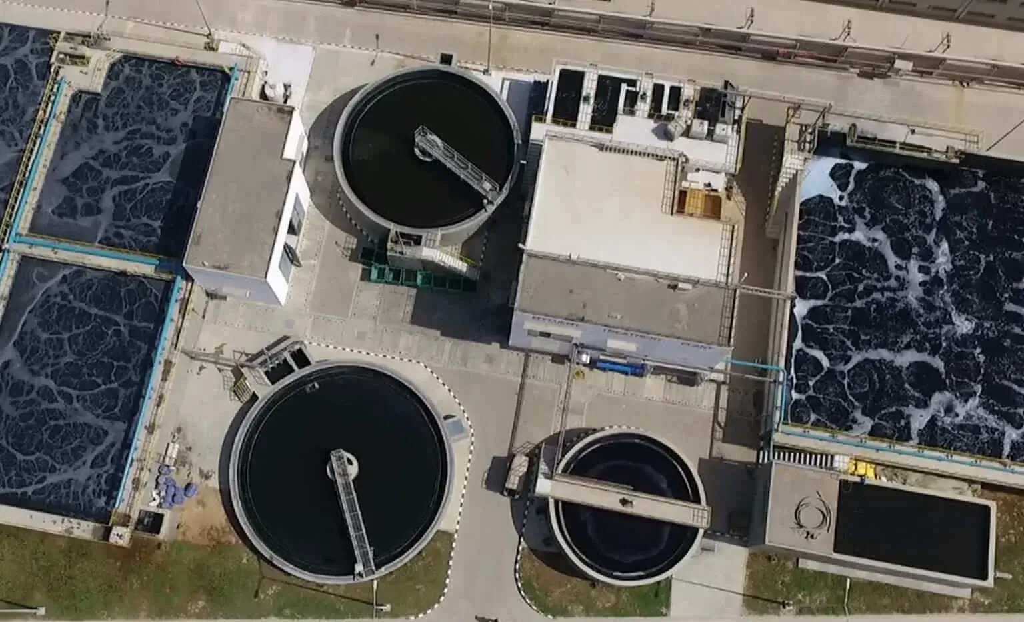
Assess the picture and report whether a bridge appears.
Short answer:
Yes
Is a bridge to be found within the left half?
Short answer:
Yes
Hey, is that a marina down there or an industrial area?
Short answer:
industrial area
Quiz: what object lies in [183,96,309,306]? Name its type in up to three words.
building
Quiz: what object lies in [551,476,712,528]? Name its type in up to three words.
bridge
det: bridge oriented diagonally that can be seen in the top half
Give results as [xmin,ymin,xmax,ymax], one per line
[416,132,500,206]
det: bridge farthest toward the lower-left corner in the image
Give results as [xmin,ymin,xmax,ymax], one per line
[329,448,374,575]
